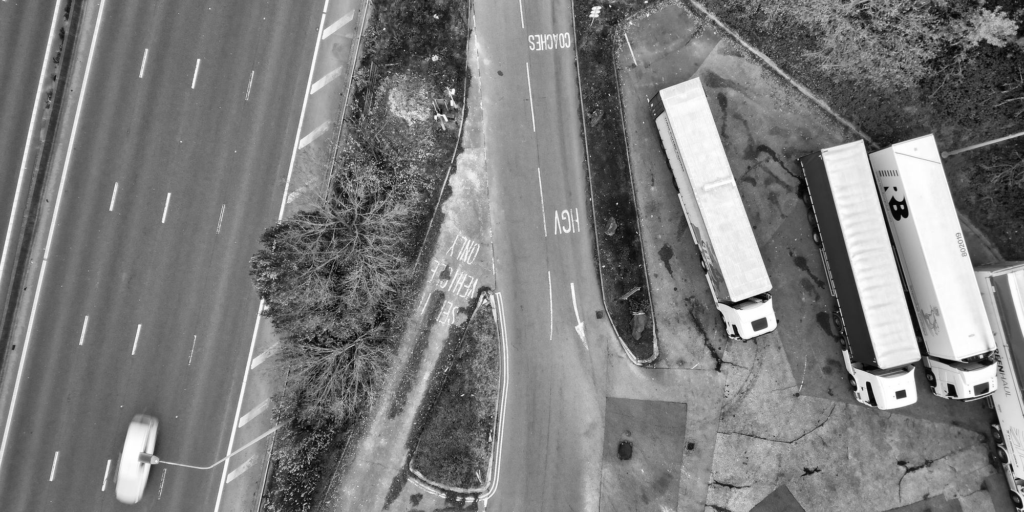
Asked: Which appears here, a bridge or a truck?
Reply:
truck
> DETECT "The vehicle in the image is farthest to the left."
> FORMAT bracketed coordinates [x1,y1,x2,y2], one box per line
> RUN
[648,77,778,343]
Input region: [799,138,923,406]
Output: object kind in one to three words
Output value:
truck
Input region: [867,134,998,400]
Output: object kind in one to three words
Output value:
truck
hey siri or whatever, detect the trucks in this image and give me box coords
[867,134,998,400]
[648,77,778,343]
[799,138,923,406]
[972,261,1024,512]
